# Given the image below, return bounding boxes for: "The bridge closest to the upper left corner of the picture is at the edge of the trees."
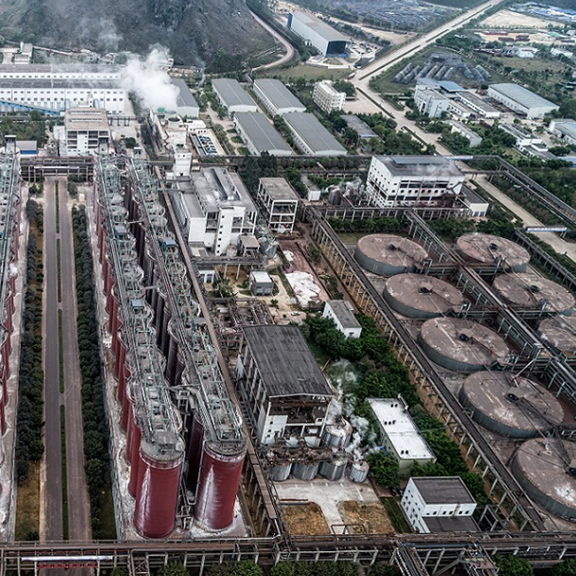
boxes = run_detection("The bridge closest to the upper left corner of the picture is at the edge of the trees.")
[22,150,94,172]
